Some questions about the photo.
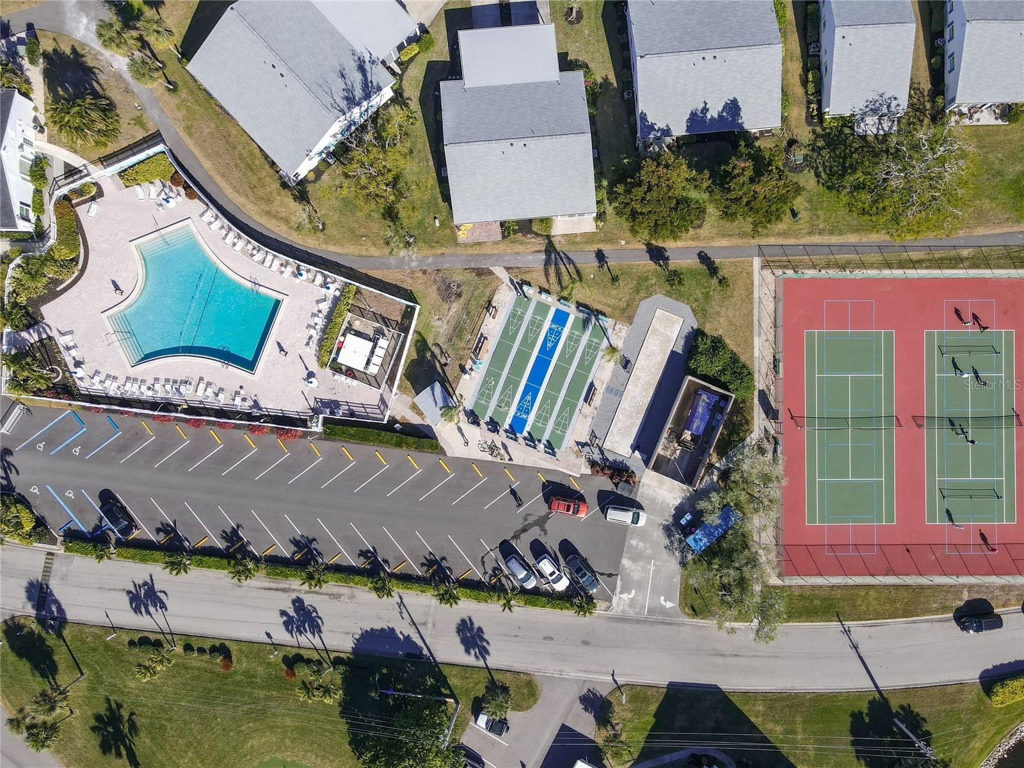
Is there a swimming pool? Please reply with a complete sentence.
Yes, the frame does contain a swimming pool.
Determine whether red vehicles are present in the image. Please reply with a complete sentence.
Yes, the image includes a red vehicle.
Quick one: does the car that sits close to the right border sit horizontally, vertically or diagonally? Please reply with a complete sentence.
I'd say the car that sits close to the right border is aligned horizontally in the picture.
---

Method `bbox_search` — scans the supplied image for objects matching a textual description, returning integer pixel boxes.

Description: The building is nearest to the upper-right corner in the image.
[944,0,1024,106]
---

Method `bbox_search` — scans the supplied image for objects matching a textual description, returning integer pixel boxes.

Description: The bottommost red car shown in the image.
[549,499,588,520]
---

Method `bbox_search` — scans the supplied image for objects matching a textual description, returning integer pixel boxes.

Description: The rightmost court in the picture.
[910,277,1024,576]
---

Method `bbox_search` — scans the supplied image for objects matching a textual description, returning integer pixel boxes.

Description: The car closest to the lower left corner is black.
[98,499,134,537]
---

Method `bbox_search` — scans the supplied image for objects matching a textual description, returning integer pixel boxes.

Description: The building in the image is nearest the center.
[414,381,450,424]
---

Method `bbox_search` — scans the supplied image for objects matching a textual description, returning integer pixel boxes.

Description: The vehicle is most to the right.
[962,612,1007,636]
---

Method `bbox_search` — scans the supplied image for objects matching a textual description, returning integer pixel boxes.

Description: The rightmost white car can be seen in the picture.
[604,505,647,528]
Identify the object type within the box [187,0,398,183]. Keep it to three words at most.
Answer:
house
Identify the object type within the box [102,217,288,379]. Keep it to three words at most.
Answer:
swimming pool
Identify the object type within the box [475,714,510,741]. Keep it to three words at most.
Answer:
car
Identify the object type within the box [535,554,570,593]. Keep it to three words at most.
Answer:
car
